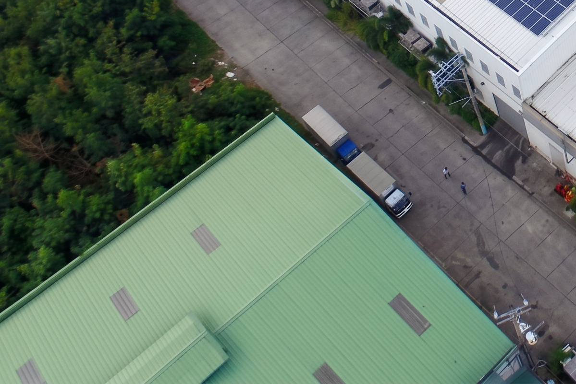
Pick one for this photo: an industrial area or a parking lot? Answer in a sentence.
What you see here is an industrial area.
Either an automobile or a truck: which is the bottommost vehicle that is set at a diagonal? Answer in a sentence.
It looks like the bottommost vehicle that is set at a diagonal is a truck.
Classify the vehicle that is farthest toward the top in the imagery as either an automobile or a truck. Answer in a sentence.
Looking closely, the vehicle that is farthest toward the top is a truck.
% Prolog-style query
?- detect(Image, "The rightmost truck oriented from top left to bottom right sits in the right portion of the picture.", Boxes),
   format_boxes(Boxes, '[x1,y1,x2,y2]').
[347,151,415,222]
